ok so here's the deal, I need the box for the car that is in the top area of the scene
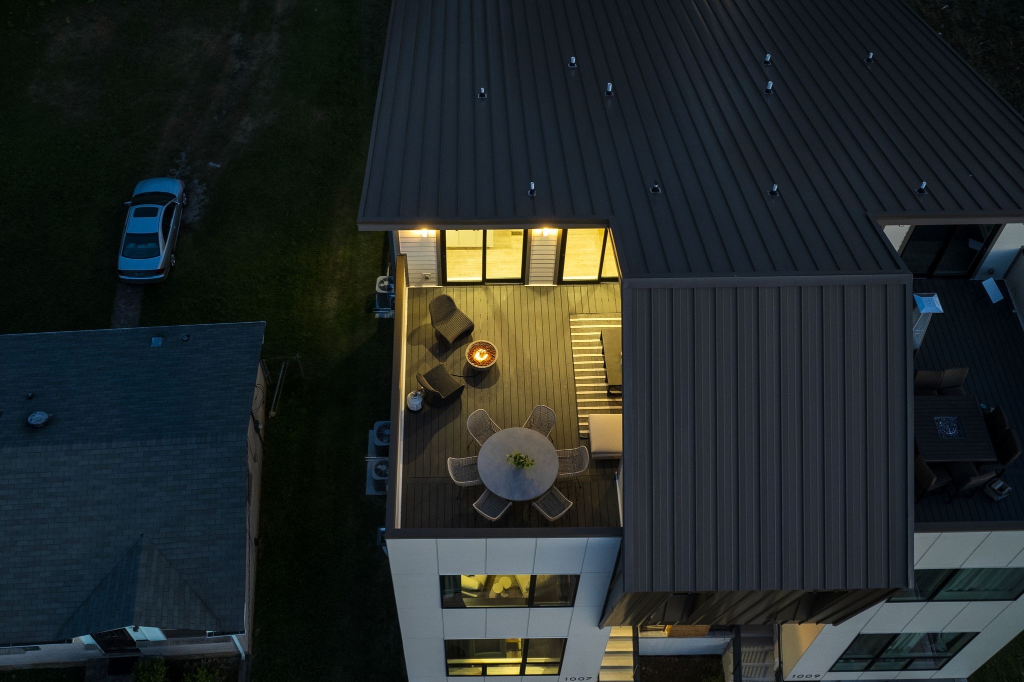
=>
[119,181,188,288]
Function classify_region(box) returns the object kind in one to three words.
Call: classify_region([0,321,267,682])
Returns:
house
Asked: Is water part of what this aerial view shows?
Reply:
No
